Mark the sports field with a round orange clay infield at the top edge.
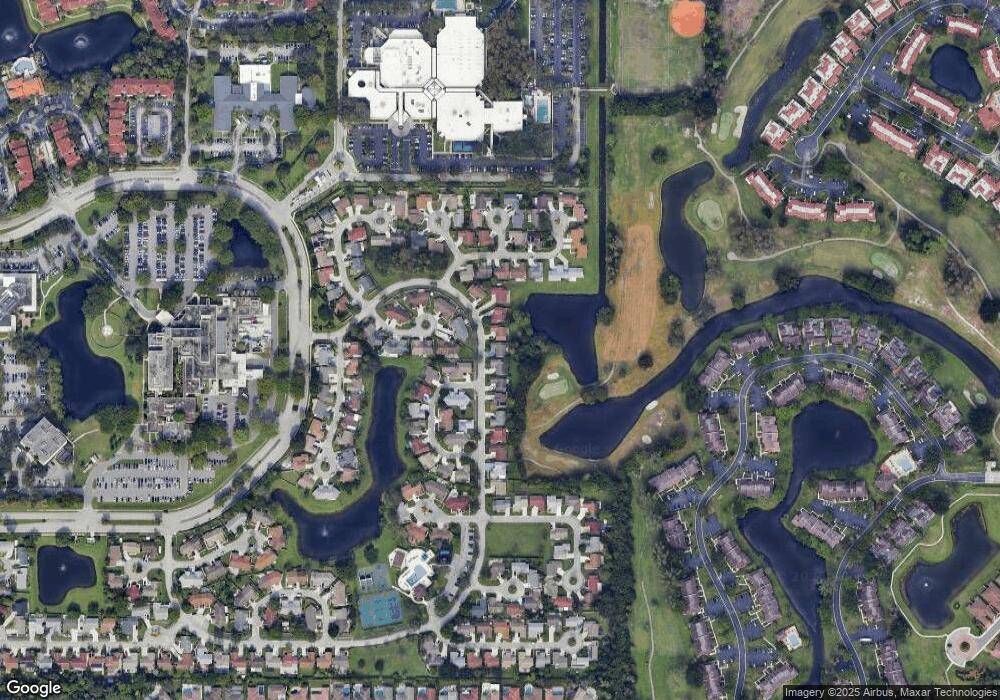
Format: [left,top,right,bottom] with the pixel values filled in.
[668,0,704,89]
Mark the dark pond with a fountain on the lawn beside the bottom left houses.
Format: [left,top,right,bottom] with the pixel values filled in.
[38,545,97,605]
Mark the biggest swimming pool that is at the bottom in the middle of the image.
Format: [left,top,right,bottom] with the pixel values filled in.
[389,548,438,590]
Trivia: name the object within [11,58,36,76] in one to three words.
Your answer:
swimming pool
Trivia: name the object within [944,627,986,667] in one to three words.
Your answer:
roundabout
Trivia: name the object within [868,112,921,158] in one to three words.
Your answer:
building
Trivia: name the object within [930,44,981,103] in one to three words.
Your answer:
pond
